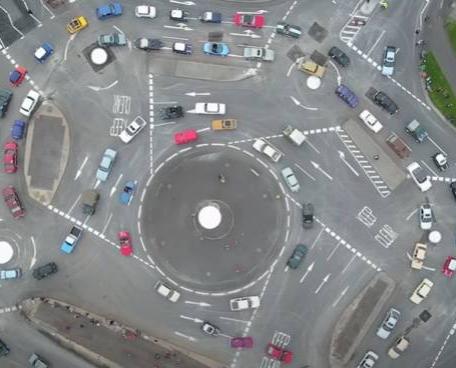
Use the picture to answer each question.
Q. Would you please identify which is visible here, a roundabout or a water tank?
roundabout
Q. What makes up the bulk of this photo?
paved ground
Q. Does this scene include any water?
No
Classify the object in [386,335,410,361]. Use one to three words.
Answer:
car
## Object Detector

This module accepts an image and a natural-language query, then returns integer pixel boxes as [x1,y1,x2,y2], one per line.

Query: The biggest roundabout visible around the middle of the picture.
[138,144,290,296]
